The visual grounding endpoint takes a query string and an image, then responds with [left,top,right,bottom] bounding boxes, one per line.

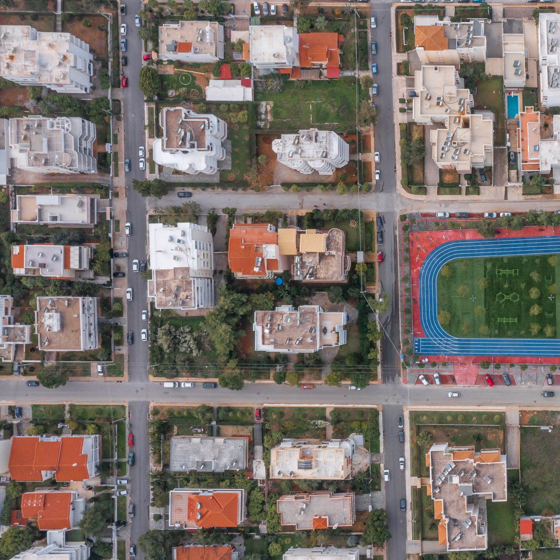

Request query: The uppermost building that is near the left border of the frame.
[0,24,89,95]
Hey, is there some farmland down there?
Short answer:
No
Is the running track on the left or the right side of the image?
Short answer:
right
